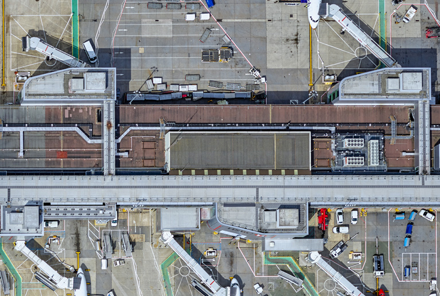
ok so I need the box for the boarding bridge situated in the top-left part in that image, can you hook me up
[19,37,94,67]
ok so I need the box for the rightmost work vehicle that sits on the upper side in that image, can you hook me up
[423,25,440,38]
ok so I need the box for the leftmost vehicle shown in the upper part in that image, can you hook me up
[81,38,97,63]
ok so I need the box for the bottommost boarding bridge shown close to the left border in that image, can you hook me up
[13,239,80,291]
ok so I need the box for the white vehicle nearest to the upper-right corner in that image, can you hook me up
[403,5,418,22]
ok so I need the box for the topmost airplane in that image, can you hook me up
[308,0,322,28]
